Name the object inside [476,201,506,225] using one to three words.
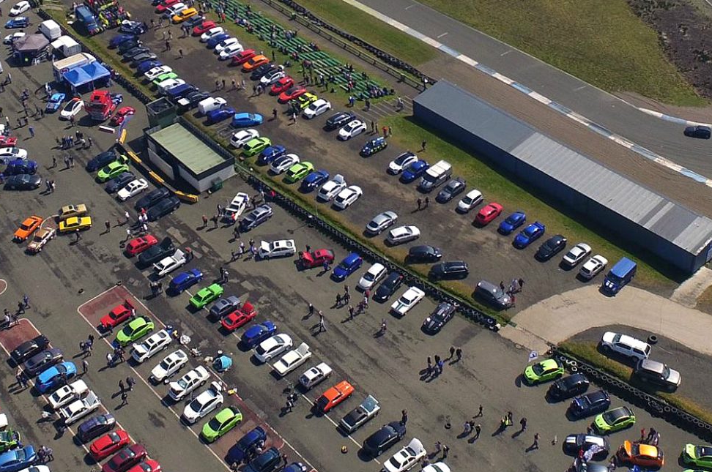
car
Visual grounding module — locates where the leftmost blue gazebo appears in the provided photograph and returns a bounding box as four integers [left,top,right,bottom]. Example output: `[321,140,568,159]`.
[61,61,113,99]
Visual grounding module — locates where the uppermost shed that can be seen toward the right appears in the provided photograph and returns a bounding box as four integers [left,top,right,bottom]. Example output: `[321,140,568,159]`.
[411,79,712,274]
